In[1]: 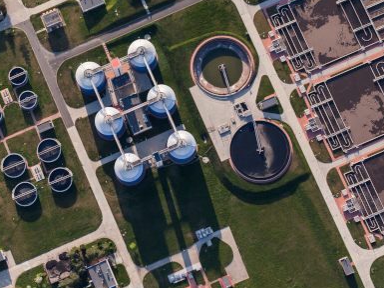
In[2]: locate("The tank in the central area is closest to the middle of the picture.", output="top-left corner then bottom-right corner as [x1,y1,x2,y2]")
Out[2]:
[166,130,198,163]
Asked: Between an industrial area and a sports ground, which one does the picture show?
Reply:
industrial area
